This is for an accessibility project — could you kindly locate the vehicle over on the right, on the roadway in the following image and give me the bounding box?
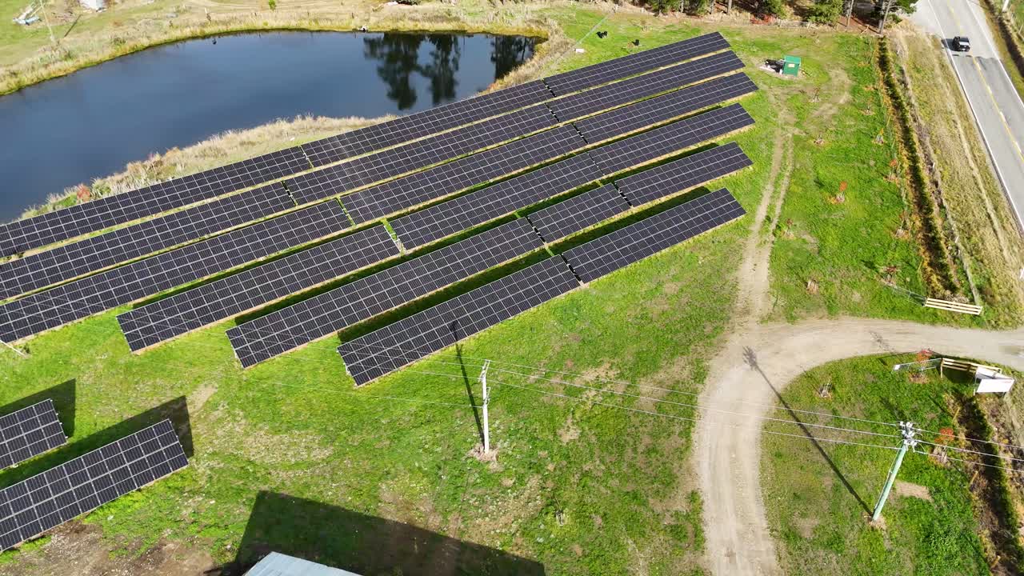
[954,33,972,49]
